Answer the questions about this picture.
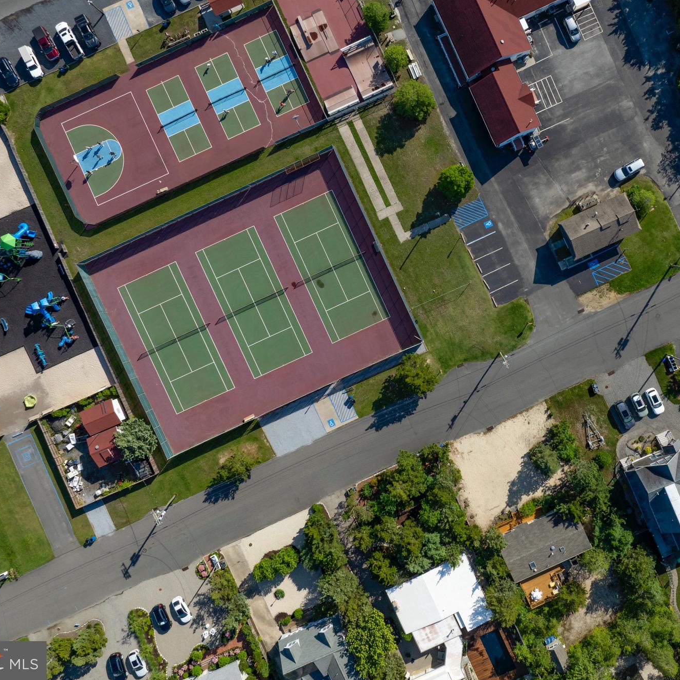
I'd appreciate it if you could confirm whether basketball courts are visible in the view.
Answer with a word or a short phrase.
Yes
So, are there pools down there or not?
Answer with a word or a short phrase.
Yes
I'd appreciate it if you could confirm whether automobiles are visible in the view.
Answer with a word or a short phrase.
Yes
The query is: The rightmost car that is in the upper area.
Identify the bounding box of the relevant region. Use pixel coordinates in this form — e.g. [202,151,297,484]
[614,160,643,181]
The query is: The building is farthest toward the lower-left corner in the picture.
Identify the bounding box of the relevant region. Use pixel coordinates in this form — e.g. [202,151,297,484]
[195,653,254,680]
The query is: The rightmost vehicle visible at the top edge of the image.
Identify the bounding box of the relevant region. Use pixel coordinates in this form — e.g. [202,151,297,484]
[560,14,582,44]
